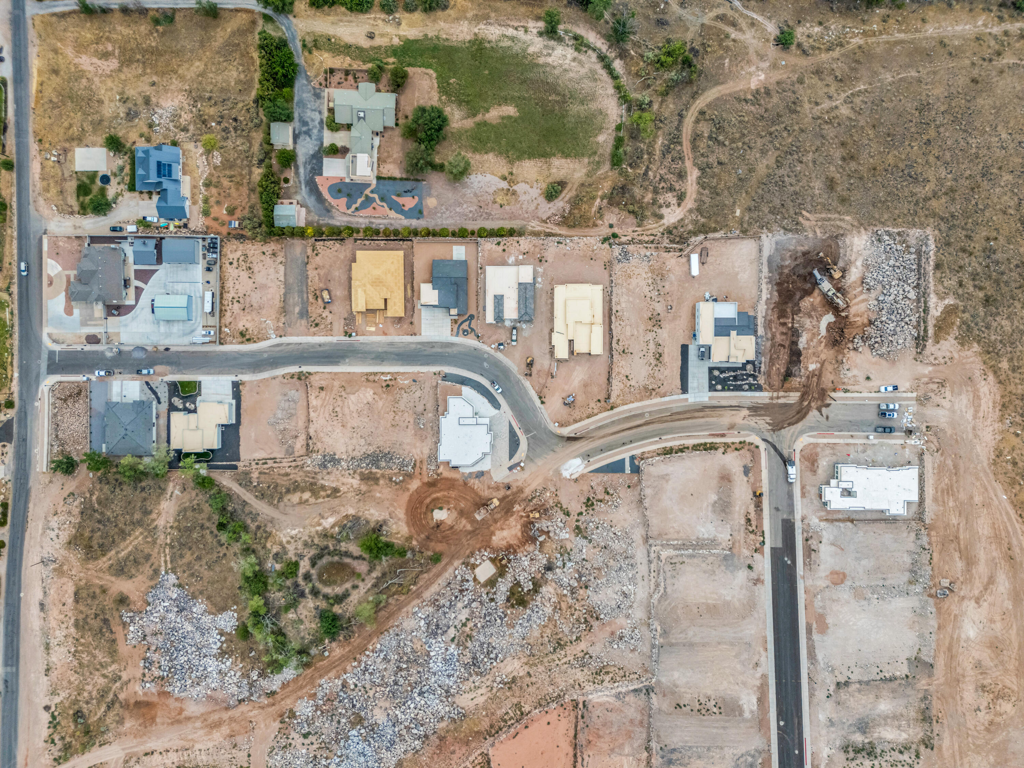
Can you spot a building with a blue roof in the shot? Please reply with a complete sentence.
Yes, you can see a building with a blue roof in this photo.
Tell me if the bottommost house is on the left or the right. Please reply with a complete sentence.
The bottommost house appears in the right half of the scene.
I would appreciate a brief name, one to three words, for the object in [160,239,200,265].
building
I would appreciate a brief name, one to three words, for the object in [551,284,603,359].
house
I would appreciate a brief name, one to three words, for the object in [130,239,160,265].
shed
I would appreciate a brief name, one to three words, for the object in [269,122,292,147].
shed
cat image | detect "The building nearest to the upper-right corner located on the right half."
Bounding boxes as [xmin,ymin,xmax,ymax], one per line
[694,302,755,363]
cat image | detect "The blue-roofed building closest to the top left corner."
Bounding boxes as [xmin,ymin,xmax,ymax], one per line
[134,143,190,220]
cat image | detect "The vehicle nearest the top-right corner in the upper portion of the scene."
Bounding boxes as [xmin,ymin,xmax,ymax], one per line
[818,250,843,280]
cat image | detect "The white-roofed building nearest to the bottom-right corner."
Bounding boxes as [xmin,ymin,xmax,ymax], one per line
[819,463,918,514]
